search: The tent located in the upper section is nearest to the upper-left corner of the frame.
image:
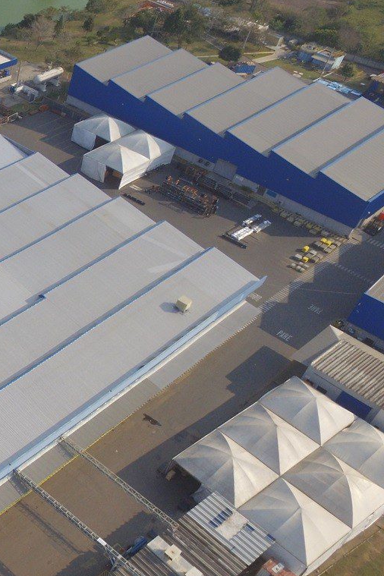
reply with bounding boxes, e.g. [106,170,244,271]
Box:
[66,117,126,151]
